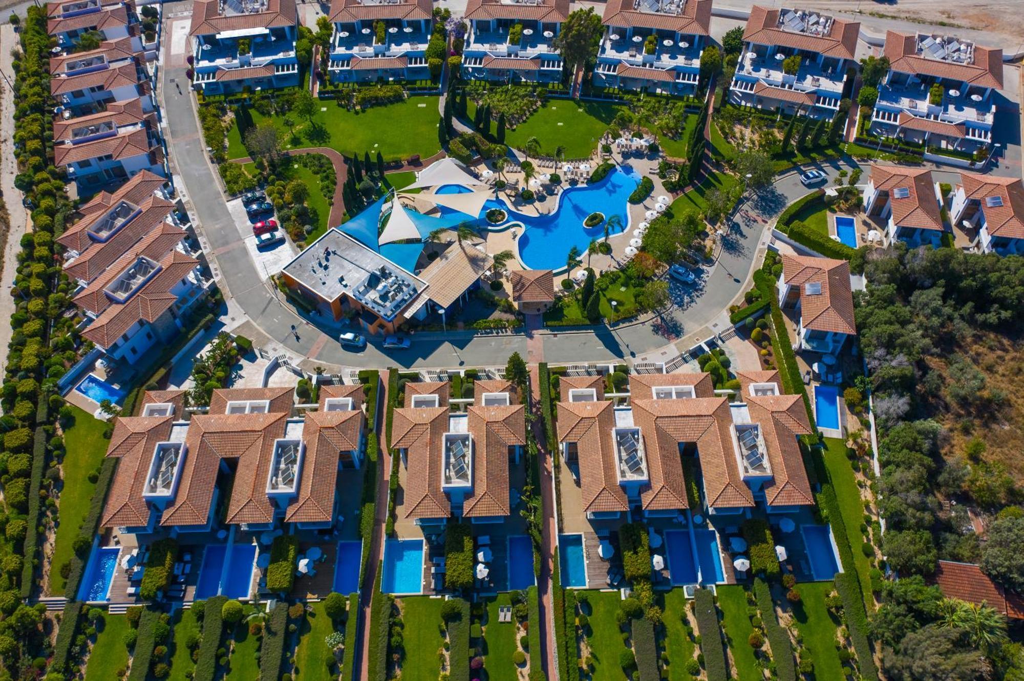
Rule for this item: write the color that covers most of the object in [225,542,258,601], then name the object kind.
blue swimming pool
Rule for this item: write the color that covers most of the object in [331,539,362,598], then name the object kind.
blue swimming pool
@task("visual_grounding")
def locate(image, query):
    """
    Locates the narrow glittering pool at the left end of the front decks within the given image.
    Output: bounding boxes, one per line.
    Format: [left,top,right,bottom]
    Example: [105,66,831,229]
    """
[77,545,124,605]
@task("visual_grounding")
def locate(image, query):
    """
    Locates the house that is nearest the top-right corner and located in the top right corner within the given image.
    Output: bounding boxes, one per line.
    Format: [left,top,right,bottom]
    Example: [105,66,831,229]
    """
[866,29,1007,176]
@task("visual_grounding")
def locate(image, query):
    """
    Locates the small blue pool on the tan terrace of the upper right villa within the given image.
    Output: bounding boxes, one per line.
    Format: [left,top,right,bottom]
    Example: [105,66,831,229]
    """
[834,214,859,250]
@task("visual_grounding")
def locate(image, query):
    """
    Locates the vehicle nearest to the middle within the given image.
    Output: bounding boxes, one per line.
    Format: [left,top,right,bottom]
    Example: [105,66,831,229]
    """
[383,335,412,349]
